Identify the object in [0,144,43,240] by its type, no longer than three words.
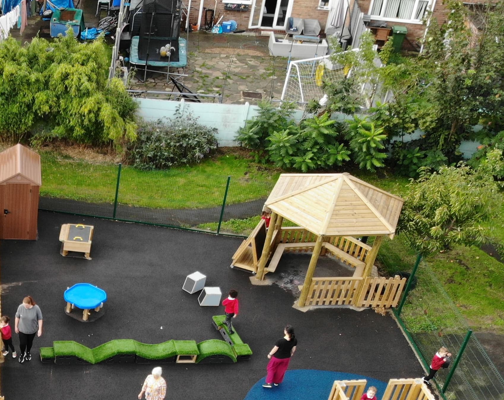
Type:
shed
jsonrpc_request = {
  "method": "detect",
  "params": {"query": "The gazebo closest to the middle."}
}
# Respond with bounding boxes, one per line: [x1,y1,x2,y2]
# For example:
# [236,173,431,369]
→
[256,168,405,306]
